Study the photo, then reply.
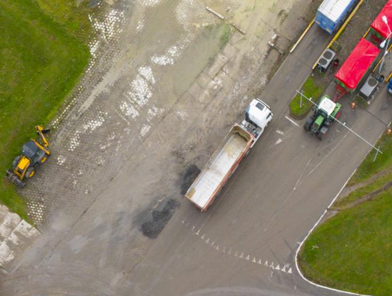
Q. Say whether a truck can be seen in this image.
Yes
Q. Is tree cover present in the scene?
No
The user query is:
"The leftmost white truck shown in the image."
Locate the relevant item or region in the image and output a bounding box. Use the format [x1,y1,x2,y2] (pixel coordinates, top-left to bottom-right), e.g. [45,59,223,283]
[185,101,275,214]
